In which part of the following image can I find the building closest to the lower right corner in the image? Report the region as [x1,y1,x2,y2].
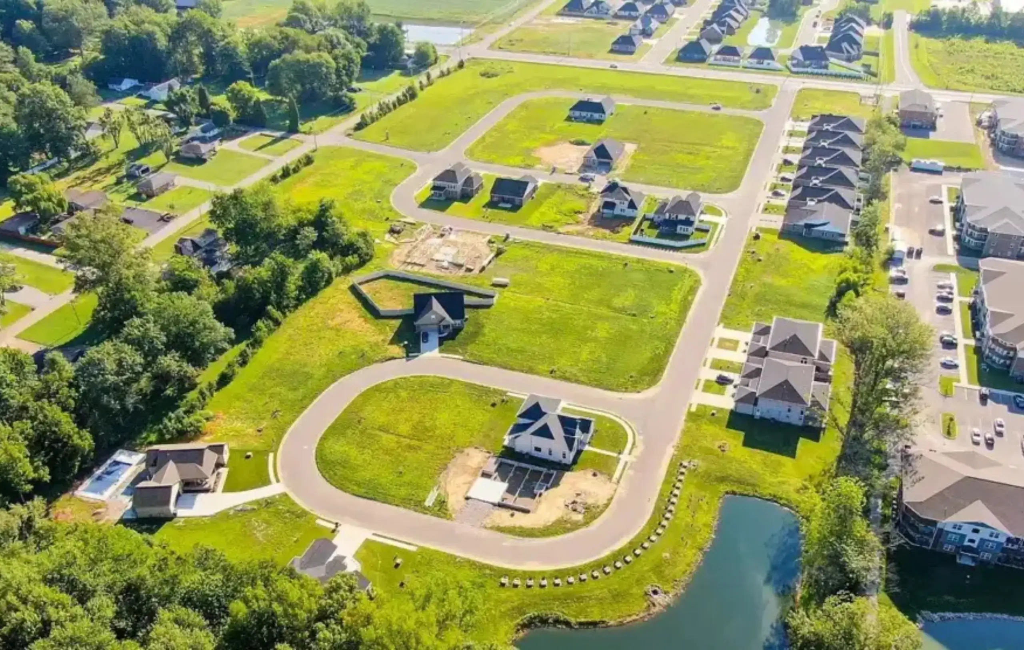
[890,443,1024,573]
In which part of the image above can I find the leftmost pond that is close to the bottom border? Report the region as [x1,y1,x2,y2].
[517,493,802,650]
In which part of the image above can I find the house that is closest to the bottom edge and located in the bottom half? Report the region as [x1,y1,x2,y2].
[282,543,374,597]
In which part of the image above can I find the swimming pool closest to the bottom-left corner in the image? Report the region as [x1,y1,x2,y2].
[73,449,146,501]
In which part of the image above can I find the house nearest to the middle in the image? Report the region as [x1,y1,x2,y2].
[413,292,464,330]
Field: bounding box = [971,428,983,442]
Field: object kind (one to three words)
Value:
vehicle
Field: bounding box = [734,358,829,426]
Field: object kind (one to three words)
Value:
house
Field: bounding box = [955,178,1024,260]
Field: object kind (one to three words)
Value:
building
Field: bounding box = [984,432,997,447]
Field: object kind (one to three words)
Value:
vehicle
